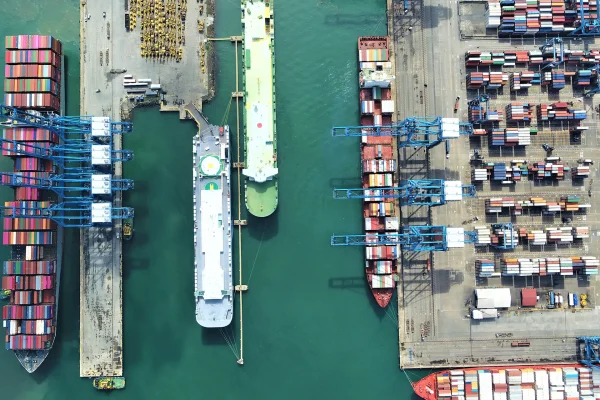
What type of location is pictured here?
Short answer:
port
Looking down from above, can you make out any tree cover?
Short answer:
No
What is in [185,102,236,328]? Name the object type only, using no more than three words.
ship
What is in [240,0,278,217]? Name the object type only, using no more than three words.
ship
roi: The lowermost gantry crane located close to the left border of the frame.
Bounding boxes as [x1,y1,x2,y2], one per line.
[0,197,129,226]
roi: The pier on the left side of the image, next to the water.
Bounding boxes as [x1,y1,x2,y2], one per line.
[79,0,208,381]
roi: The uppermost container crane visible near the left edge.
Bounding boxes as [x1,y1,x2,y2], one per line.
[0,107,129,147]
